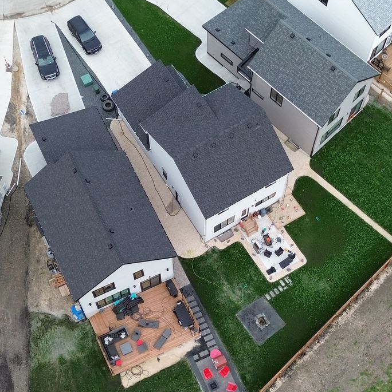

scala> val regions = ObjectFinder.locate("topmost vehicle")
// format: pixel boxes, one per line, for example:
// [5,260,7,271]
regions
[67,13,101,54]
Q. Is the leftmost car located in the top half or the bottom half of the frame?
top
